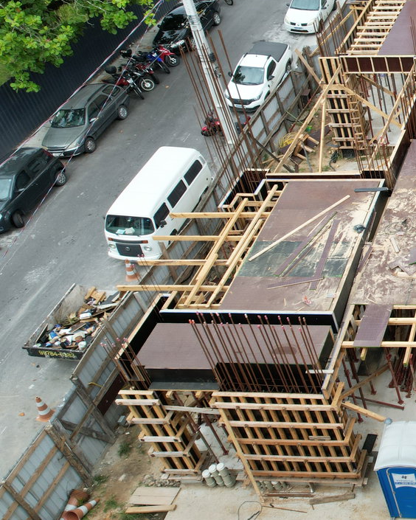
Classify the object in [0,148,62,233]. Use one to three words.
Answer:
truck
